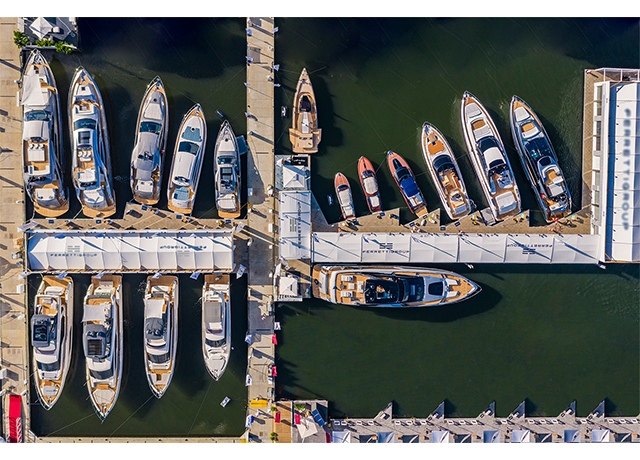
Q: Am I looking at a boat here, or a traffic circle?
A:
boat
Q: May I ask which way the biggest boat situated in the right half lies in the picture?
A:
horizontally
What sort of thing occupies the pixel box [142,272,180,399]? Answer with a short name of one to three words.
boat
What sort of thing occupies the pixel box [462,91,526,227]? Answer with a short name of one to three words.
boat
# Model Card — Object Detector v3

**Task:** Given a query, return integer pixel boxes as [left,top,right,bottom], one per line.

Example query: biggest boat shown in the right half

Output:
[312,264,482,309]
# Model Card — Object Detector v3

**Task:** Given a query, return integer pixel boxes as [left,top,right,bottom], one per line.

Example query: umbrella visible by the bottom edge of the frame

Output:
[301,414,325,440]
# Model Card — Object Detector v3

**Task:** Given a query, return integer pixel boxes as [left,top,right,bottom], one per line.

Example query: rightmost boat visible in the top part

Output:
[512,96,579,228]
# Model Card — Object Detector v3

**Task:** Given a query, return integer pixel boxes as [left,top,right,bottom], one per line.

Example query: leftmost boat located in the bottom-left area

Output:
[29,272,75,410]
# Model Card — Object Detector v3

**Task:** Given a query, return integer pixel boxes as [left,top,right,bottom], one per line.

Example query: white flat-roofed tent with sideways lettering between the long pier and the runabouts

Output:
[279,191,311,263]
